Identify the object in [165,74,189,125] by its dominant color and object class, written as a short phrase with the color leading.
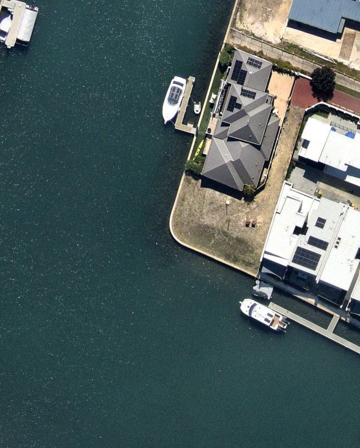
white boat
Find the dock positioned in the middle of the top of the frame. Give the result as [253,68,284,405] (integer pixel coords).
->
[175,76,198,135]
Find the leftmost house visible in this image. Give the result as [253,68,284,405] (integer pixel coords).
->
[202,50,281,191]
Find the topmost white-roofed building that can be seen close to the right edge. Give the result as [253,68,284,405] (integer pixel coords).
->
[298,117,360,187]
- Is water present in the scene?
Yes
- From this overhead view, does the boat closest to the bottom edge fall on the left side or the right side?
right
